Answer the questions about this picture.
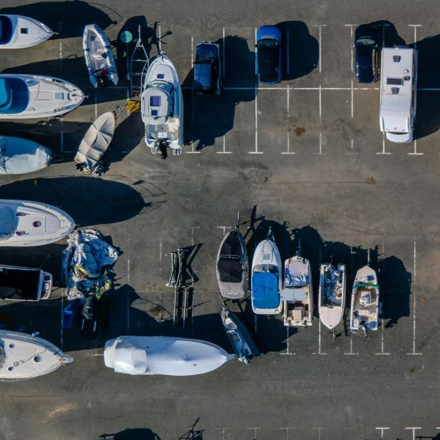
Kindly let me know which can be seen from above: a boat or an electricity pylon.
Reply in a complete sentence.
I can see a boat in this picture.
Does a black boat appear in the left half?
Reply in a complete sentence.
Yes, a black boat can be seen in the left half.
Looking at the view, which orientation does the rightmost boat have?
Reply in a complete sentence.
I'd say the rightmost boat is aligned up and down in the picture.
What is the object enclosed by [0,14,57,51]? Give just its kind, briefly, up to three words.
boat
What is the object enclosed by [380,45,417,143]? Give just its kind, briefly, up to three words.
camper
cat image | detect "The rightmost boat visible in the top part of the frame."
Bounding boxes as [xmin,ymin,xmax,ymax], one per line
[141,49,184,159]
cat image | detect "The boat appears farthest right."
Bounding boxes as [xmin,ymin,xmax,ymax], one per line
[352,266,382,344]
